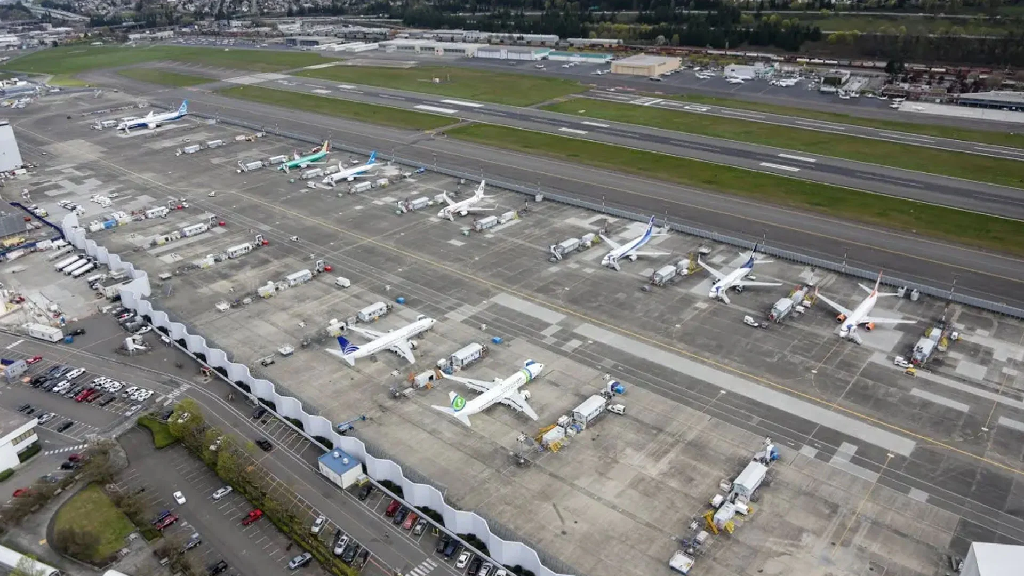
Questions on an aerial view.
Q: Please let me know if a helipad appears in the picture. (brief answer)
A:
No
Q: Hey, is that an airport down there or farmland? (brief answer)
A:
airport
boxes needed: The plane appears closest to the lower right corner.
[814,274,915,338]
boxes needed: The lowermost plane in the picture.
[443,363,543,425]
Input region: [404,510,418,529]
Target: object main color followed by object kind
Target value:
red car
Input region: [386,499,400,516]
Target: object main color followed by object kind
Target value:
red car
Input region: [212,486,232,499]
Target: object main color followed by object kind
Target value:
gray vehicle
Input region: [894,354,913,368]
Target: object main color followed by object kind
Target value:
white vehicle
